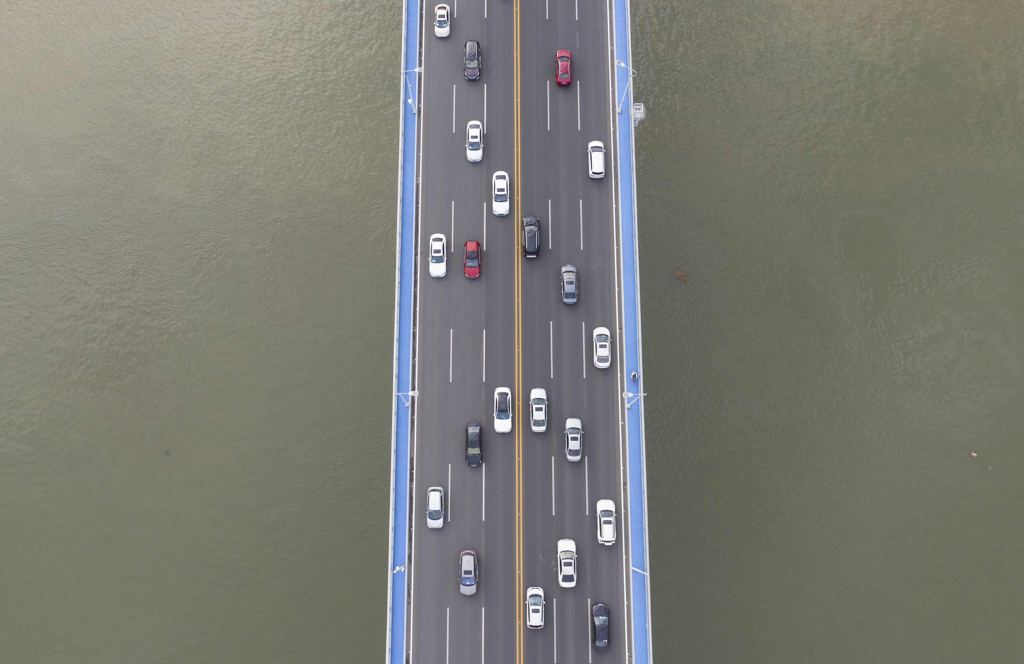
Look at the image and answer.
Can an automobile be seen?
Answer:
Yes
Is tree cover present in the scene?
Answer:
No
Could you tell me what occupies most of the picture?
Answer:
water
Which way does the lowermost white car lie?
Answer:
up and down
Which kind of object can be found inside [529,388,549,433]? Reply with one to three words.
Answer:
car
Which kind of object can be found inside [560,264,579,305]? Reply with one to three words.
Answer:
car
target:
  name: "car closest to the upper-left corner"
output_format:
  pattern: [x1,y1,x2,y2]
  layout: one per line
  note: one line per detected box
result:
[433,4,451,38]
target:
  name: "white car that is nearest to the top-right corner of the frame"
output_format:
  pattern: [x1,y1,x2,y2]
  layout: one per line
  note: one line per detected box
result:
[587,140,606,179]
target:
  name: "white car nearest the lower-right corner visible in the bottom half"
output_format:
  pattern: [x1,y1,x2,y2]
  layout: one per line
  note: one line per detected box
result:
[596,499,617,545]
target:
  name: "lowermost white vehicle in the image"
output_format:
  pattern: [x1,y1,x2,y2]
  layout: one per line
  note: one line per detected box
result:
[525,586,545,630]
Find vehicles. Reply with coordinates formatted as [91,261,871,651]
[590,602,611,653]
[563,418,584,462]
[596,499,617,545]
[529,388,549,433]
[463,41,481,81]
[491,172,511,216]
[587,140,606,179]
[433,4,451,38]
[465,121,484,163]
[463,241,482,279]
[493,387,513,434]
[458,550,479,596]
[525,586,545,630]
[428,234,447,278]
[556,538,578,588]
[555,49,573,86]
[464,422,484,468]
[592,327,612,369]
[560,264,579,305]
[425,487,445,529]
[521,216,541,258]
